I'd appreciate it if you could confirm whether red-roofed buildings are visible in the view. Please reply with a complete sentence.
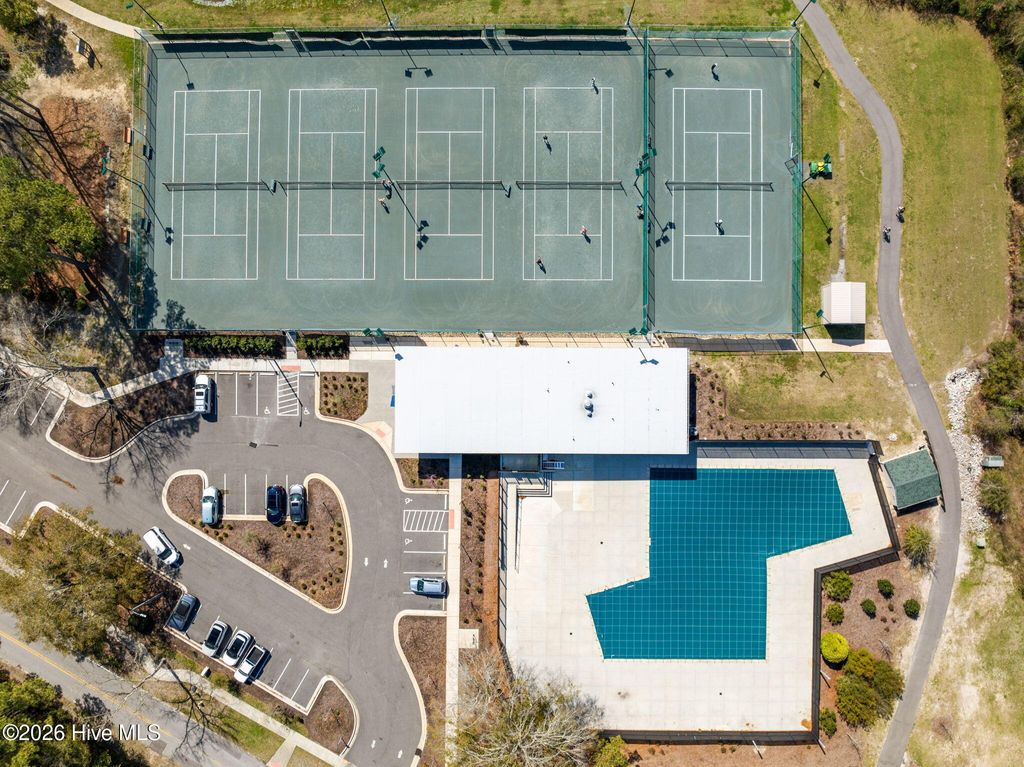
No, I can see no red-roofed building in this picture.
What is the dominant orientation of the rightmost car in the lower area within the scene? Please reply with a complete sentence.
The rightmost car in the lower area has been laid out horizontally relative to the frame.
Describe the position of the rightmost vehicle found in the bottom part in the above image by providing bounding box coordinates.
[410,576,447,596]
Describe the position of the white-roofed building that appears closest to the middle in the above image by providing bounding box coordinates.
[394,347,689,454]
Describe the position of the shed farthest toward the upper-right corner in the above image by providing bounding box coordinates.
[822,282,866,324]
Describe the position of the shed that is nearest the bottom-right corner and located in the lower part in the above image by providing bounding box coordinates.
[879,449,941,508]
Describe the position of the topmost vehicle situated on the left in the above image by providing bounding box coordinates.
[193,373,215,413]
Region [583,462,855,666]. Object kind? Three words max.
swimming pool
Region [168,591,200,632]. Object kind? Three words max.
car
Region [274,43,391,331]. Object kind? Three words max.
tennis court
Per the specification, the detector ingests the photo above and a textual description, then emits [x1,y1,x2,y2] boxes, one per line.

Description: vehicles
[222,626,253,667]
[168,591,200,632]
[193,373,215,413]
[143,525,179,567]
[410,576,447,596]
[266,484,286,523]
[236,641,269,685]
[201,617,231,657]
[287,484,307,524]
[200,485,222,525]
